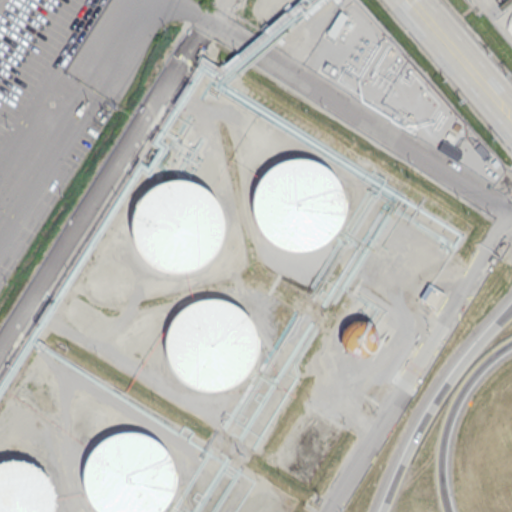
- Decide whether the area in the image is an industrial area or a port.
industrial area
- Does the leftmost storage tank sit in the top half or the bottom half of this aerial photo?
bottom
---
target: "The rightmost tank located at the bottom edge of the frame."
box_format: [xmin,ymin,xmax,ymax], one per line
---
[84,430,180,512]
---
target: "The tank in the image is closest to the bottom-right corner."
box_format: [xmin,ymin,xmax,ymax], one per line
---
[342,320,390,358]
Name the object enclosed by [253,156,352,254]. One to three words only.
storage tank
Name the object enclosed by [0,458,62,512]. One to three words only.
storage tank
